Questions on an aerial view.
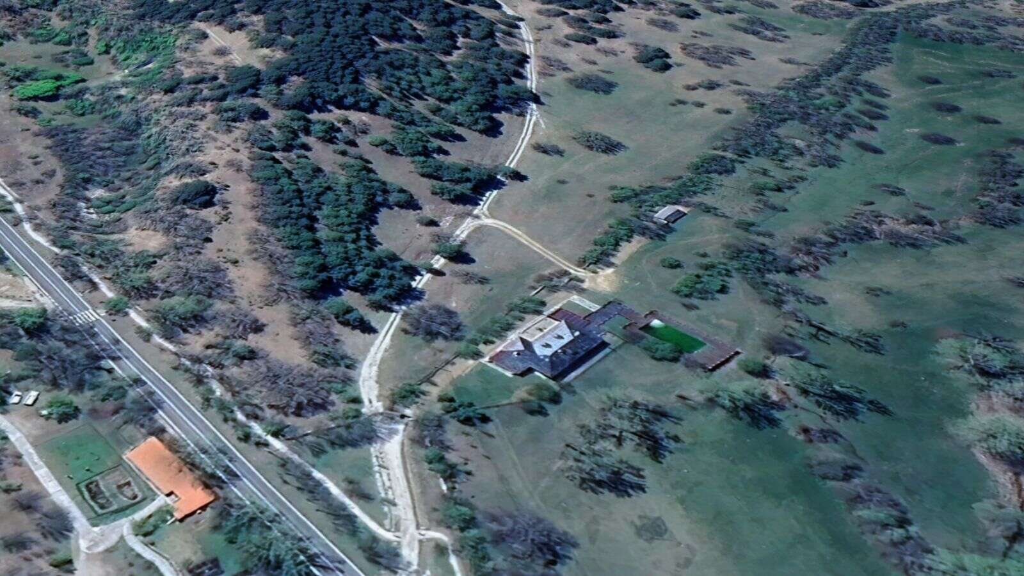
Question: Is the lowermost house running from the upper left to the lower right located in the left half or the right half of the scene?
left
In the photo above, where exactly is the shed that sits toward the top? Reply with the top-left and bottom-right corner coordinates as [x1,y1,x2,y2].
[649,209,686,233]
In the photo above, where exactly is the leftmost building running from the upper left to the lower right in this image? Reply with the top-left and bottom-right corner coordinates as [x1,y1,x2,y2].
[123,437,215,526]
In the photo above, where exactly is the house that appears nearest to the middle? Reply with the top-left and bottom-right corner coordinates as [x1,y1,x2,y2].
[490,306,605,380]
